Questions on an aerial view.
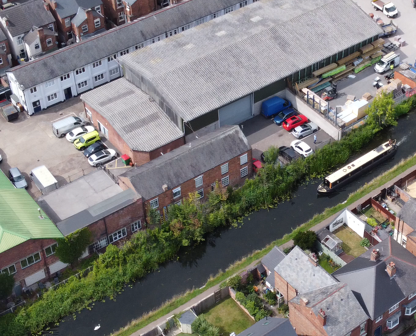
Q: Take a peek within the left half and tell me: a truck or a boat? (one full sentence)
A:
Looking within the left half, you will find a truck.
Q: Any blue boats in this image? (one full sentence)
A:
No, there isn't any blue boat down there.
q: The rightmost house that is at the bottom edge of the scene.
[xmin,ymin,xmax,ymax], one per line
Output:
[339,234,416,336]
